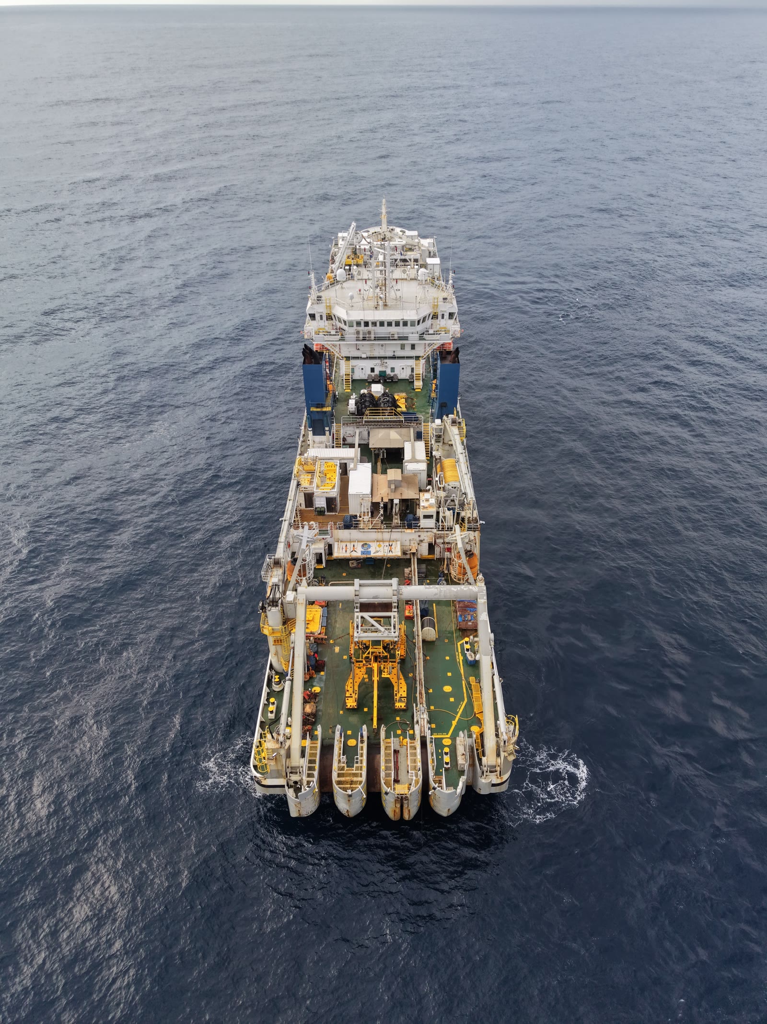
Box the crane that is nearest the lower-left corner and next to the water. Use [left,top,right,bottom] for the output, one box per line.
[256,469,310,673]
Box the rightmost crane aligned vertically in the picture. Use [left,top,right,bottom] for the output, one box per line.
[431,405,477,539]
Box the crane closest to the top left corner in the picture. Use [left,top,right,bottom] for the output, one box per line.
[332,219,385,280]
